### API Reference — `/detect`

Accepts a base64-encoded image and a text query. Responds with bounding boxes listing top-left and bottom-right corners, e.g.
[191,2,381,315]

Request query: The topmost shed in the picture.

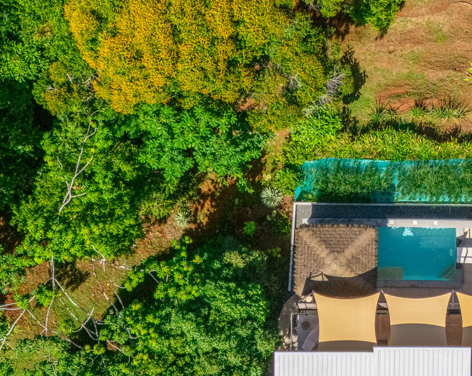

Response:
[290,223,380,301]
